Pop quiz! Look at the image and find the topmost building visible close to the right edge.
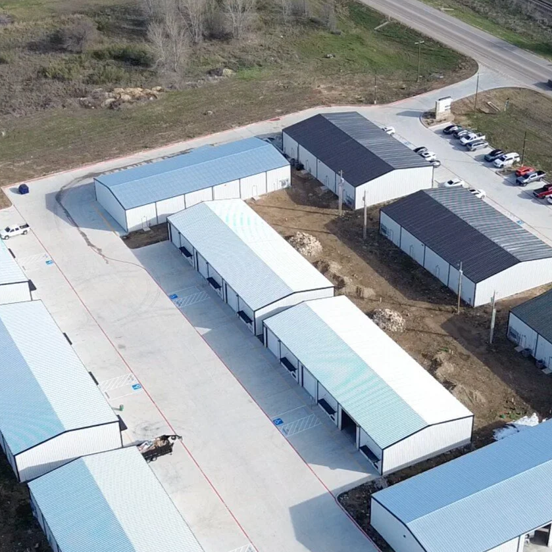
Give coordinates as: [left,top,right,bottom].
[379,186,552,307]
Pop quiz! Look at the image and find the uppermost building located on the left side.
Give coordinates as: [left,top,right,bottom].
[93,136,291,232]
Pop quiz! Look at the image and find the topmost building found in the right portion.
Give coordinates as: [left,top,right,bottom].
[281,111,435,208]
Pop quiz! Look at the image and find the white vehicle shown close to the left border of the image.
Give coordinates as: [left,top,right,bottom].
[0,223,31,240]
